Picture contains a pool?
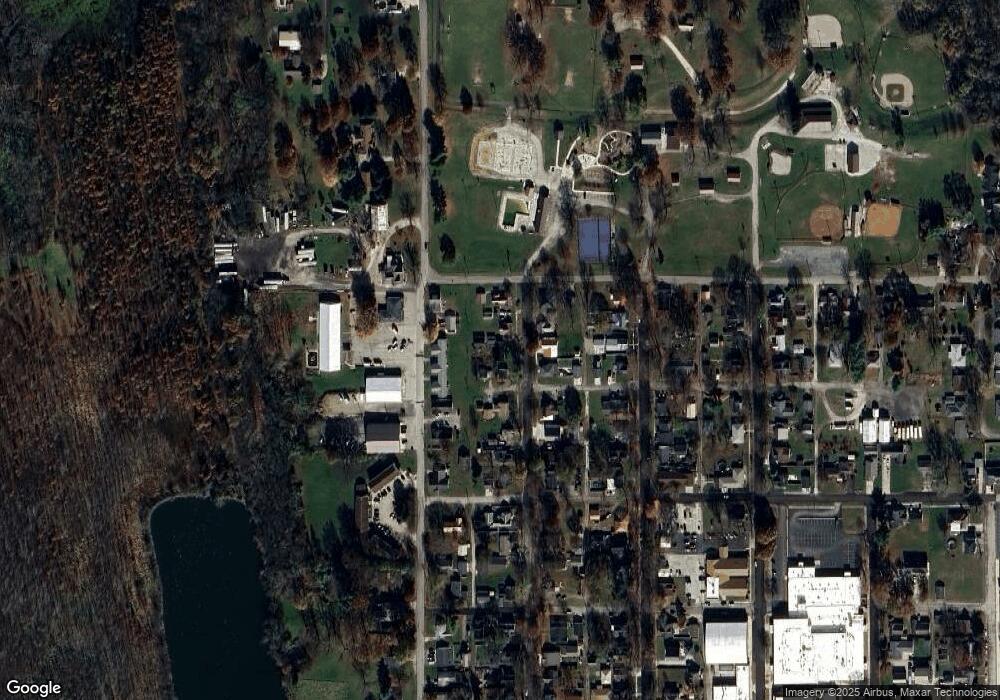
Yes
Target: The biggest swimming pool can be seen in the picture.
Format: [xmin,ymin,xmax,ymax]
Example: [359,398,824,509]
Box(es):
[497,191,531,233]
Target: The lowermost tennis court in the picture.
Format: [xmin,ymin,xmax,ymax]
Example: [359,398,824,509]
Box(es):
[578,219,610,263]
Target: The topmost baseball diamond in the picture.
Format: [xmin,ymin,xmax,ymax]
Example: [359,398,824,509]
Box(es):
[808,14,843,49]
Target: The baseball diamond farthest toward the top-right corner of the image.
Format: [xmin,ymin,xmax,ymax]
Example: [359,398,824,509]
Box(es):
[880,73,913,110]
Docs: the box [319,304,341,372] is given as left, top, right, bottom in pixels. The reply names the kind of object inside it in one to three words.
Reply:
building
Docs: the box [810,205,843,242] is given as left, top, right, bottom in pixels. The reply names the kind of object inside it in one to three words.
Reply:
baseball field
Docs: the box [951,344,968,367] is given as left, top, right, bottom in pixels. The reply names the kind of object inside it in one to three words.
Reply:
house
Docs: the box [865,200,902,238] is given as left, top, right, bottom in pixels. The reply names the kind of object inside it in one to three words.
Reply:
baseball field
